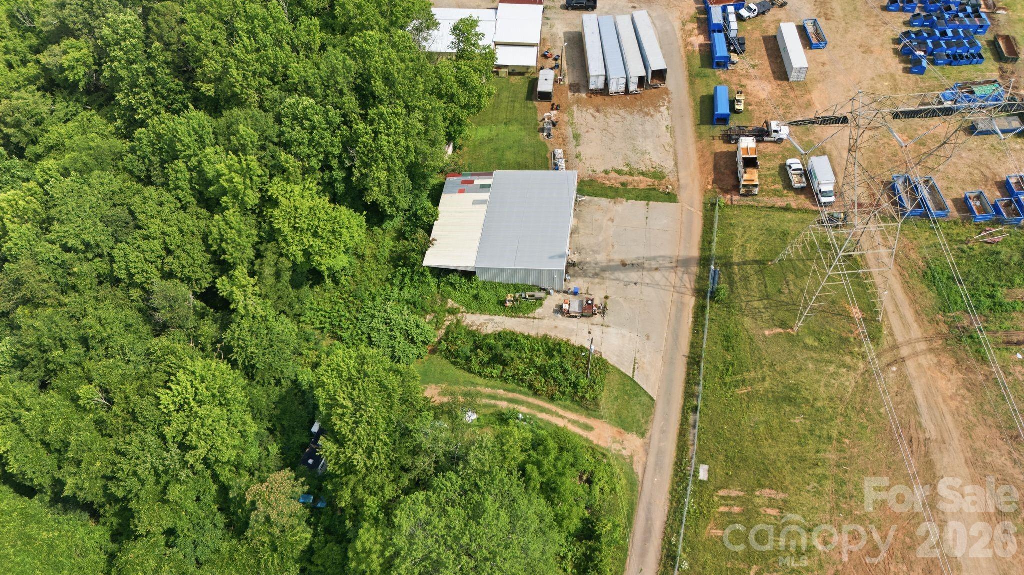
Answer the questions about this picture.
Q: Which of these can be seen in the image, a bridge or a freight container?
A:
freight container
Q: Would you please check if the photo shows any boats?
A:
No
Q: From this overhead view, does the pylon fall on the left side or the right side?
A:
right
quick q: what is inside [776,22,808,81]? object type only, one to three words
shipping container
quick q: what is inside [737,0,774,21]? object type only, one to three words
truck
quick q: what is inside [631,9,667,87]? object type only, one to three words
trailer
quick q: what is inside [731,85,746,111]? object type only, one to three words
vehicle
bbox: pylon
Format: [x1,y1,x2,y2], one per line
[770,77,1024,332]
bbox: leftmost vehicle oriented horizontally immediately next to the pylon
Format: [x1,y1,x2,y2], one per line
[724,120,791,142]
